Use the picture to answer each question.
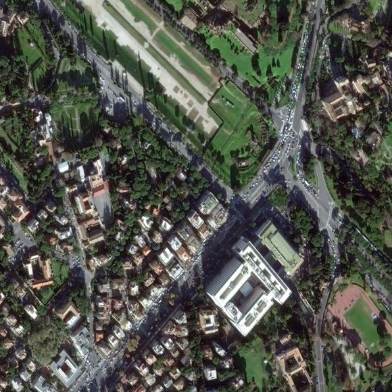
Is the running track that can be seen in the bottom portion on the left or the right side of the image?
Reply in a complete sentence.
The running track that can be seen in the bottom portion appears in the right half of the scene.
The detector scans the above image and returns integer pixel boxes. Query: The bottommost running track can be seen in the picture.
[329,284,392,368]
